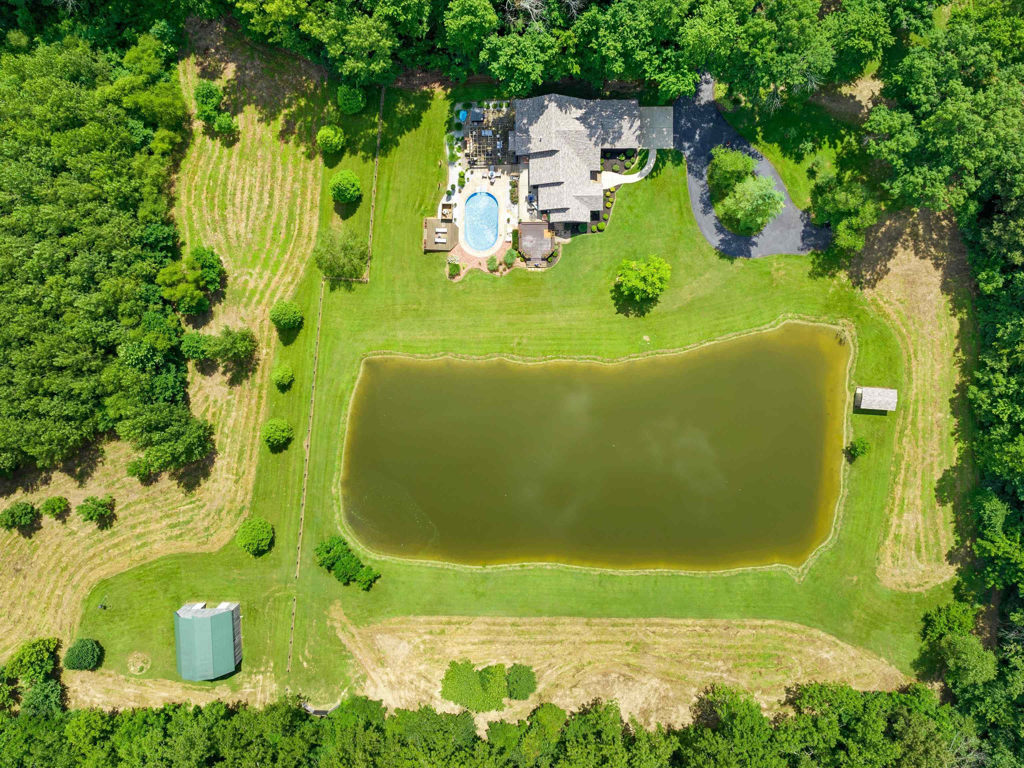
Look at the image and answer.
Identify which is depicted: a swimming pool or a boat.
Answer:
swimming pool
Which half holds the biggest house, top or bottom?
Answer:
top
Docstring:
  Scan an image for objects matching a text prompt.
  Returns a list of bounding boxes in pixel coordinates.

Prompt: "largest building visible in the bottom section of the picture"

[174,603,242,681]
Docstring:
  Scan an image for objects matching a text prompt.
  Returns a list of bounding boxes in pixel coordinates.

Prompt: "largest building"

[508,93,640,224]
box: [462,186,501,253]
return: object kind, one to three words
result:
swimming pool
